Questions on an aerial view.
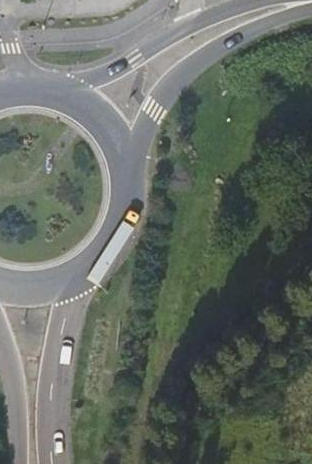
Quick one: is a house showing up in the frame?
No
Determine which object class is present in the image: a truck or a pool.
truck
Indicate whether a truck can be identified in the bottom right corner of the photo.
No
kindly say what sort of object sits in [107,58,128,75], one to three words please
car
